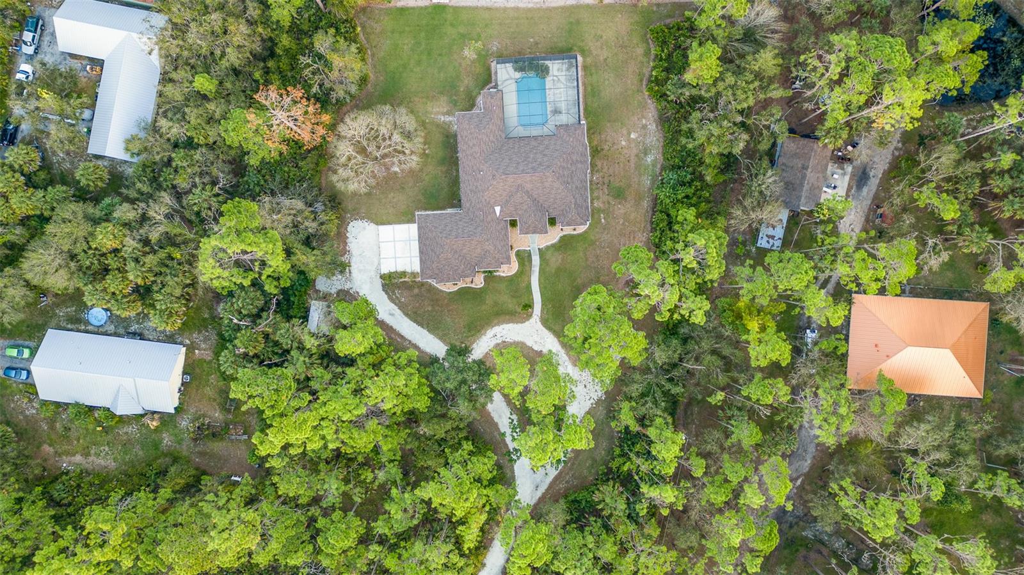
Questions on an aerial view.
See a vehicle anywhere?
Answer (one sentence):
Yes, there's a vehicle down there.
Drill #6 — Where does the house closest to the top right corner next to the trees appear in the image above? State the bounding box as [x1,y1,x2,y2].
[769,137,832,206]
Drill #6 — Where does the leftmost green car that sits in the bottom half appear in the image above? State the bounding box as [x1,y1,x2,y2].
[5,346,32,359]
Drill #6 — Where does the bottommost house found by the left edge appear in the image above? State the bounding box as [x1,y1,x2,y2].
[31,329,189,414]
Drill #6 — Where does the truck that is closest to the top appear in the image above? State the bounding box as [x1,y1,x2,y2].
[19,16,42,55]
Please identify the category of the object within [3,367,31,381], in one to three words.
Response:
car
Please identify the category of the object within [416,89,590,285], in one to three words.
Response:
house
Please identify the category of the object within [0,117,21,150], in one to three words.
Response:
truck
